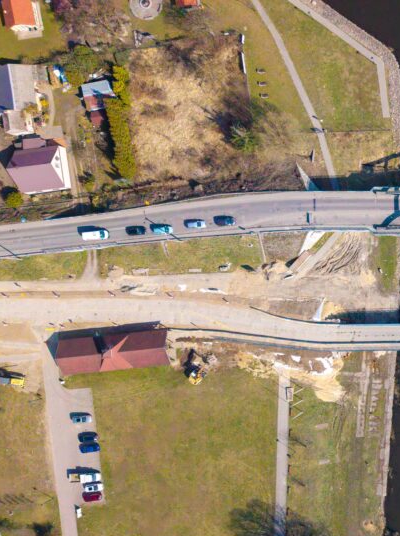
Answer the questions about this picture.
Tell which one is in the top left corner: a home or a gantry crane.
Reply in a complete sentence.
The feature located in the top left corner is a home.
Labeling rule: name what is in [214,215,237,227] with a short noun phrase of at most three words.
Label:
vehicle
